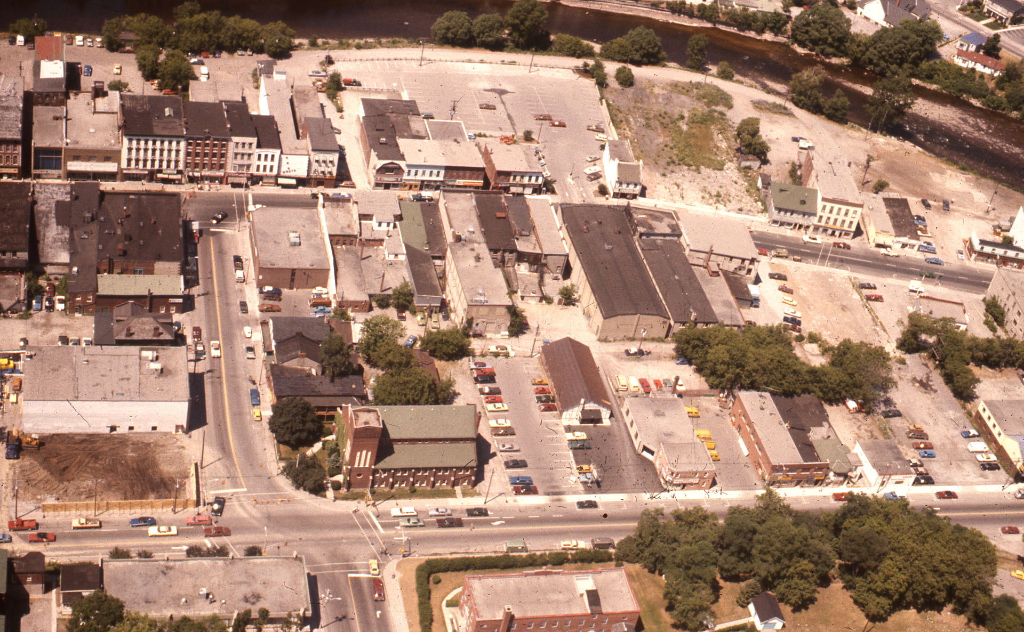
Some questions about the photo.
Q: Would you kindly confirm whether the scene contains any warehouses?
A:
Yes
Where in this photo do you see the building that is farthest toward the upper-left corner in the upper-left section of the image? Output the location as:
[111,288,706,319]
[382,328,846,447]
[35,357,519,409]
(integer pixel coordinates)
[33,35,65,105]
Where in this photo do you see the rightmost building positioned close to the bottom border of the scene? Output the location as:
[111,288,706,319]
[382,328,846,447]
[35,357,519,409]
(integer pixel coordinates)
[750,592,786,630]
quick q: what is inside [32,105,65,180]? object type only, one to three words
building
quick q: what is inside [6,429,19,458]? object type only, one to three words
vehicle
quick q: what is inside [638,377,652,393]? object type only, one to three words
car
